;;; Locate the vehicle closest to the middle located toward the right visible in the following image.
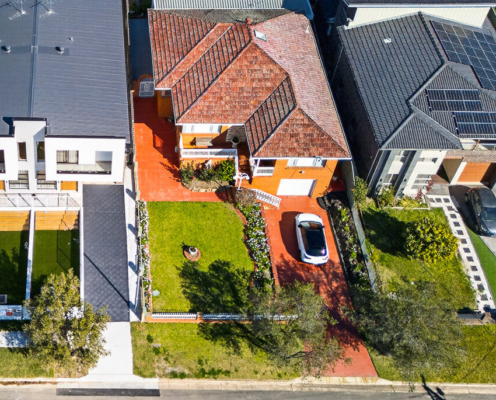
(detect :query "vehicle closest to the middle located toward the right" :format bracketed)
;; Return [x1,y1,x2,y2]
[291,208,328,263]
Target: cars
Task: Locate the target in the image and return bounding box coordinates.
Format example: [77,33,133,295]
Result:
[469,185,496,240]
[291,208,328,263]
